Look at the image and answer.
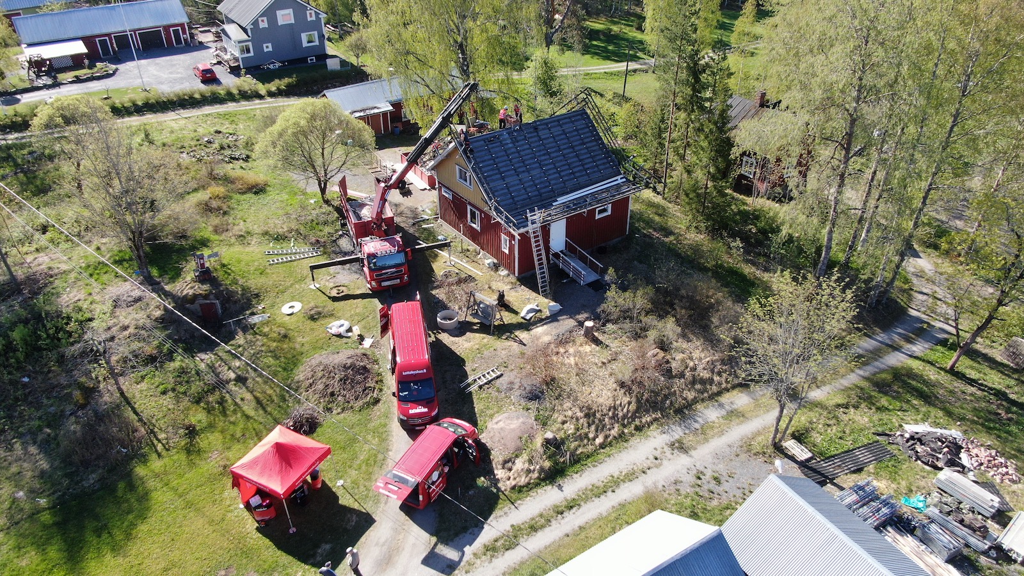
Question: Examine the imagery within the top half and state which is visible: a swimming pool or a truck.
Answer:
truck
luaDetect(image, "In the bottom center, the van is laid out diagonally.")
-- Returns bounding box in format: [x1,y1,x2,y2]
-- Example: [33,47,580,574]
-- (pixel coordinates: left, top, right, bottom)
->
[372,420,480,504]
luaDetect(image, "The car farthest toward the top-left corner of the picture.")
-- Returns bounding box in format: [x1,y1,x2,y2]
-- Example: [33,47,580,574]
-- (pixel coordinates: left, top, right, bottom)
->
[195,63,213,79]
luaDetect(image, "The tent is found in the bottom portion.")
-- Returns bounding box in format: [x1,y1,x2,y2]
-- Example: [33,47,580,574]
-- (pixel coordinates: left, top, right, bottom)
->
[229,425,340,532]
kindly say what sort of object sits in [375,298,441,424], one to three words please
van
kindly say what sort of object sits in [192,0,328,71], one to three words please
house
